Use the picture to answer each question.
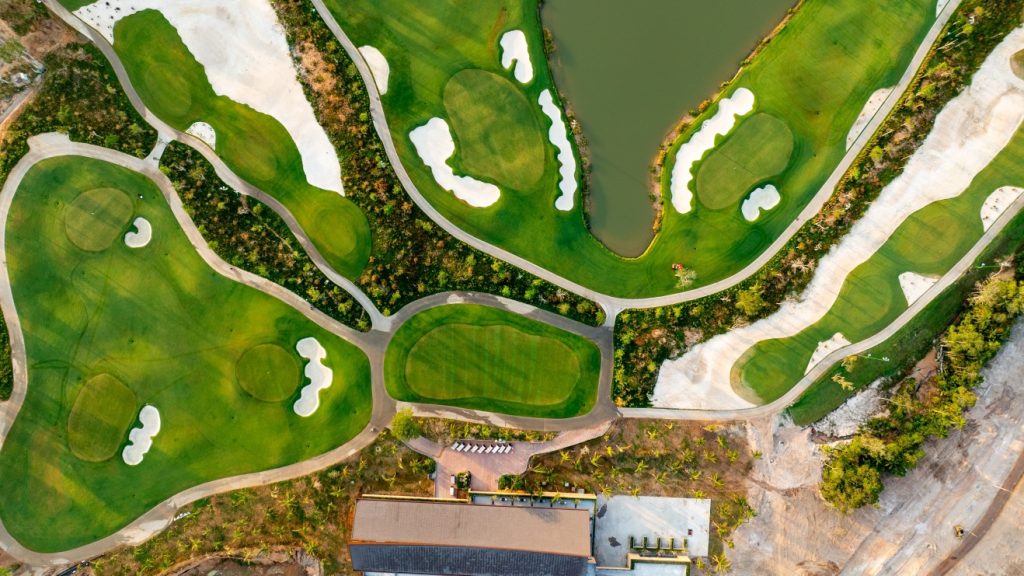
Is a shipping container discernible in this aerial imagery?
No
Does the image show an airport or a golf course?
golf course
